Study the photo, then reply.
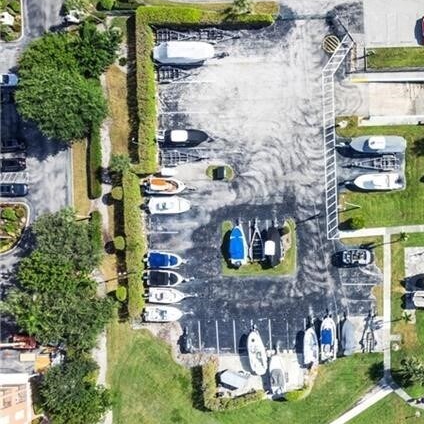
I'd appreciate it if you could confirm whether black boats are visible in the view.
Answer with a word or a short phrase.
Yes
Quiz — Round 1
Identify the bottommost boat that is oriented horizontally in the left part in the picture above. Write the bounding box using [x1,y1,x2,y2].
[143,305,183,322]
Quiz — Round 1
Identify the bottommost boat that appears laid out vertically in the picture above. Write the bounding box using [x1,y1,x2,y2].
[270,355,287,403]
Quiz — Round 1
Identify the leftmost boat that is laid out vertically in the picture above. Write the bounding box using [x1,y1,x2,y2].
[231,228,247,270]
